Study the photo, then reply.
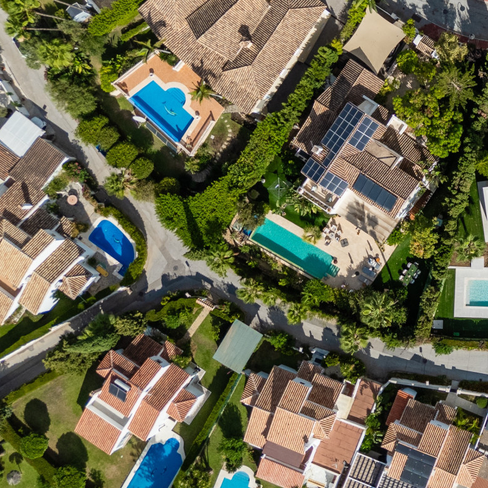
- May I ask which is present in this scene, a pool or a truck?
pool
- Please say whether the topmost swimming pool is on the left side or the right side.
left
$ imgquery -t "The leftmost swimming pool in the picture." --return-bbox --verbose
[87,218,138,276]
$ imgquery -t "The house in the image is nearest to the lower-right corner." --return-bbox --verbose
[343,389,488,488]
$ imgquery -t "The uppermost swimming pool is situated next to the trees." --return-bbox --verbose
[127,76,196,146]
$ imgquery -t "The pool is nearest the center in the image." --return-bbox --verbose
[250,216,342,279]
